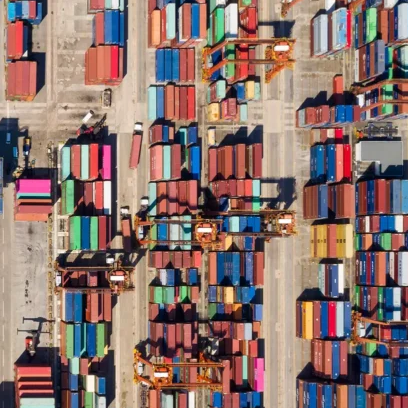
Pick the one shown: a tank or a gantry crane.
gantry crane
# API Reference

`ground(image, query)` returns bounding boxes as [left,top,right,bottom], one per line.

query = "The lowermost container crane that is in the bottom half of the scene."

[136,348,225,389]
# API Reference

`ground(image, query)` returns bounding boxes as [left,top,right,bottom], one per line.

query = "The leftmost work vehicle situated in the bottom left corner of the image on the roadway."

[18,328,52,352]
